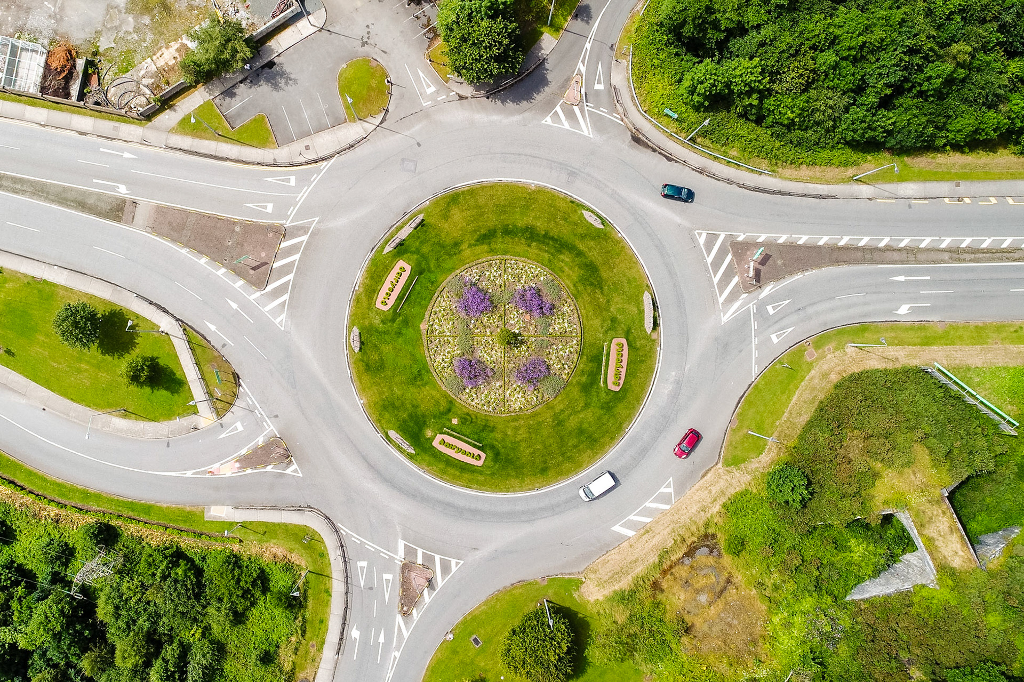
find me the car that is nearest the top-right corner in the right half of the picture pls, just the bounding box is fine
[660,184,694,204]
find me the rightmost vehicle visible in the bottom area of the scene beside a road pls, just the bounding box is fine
[673,428,701,459]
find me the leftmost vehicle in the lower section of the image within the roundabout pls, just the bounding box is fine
[578,470,615,500]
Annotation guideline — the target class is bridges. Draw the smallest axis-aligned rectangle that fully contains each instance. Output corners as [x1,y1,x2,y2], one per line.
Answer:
[847,477,1024,606]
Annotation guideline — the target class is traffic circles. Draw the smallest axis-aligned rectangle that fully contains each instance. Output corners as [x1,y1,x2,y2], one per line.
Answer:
[290,123,718,551]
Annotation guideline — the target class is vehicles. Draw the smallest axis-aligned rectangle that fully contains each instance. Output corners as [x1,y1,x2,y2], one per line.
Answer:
[660,184,694,204]
[673,428,701,459]
[578,470,615,500]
